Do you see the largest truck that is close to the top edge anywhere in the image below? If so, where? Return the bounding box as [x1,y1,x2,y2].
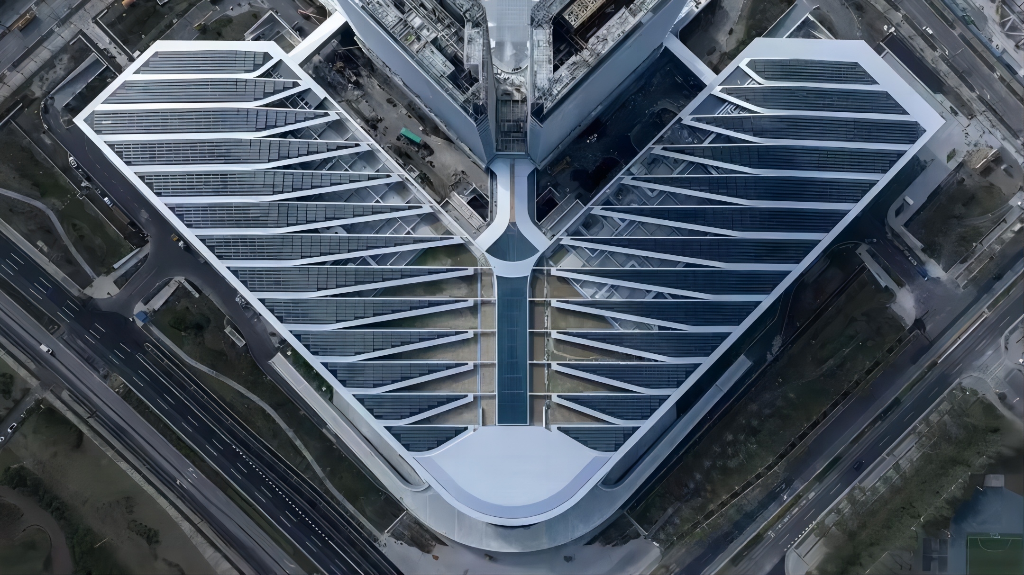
[6,12,37,34]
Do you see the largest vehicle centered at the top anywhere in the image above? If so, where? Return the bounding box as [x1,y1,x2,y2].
[398,125,423,145]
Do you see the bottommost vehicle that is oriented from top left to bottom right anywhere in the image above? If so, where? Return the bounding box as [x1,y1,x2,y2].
[38,343,54,355]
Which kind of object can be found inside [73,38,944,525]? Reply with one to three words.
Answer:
building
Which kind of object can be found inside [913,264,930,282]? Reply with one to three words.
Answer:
vehicle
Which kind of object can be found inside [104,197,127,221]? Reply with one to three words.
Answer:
truck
